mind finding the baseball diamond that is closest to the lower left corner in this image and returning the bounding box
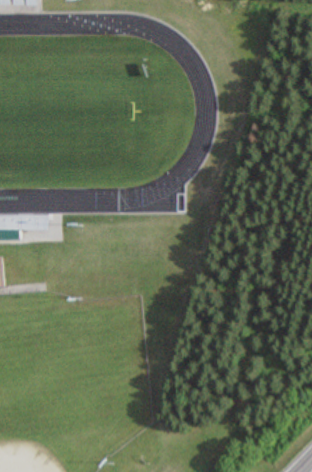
[0,441,63,472]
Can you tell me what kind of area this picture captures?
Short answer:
sports ground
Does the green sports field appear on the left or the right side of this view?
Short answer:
left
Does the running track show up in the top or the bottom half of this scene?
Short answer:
top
